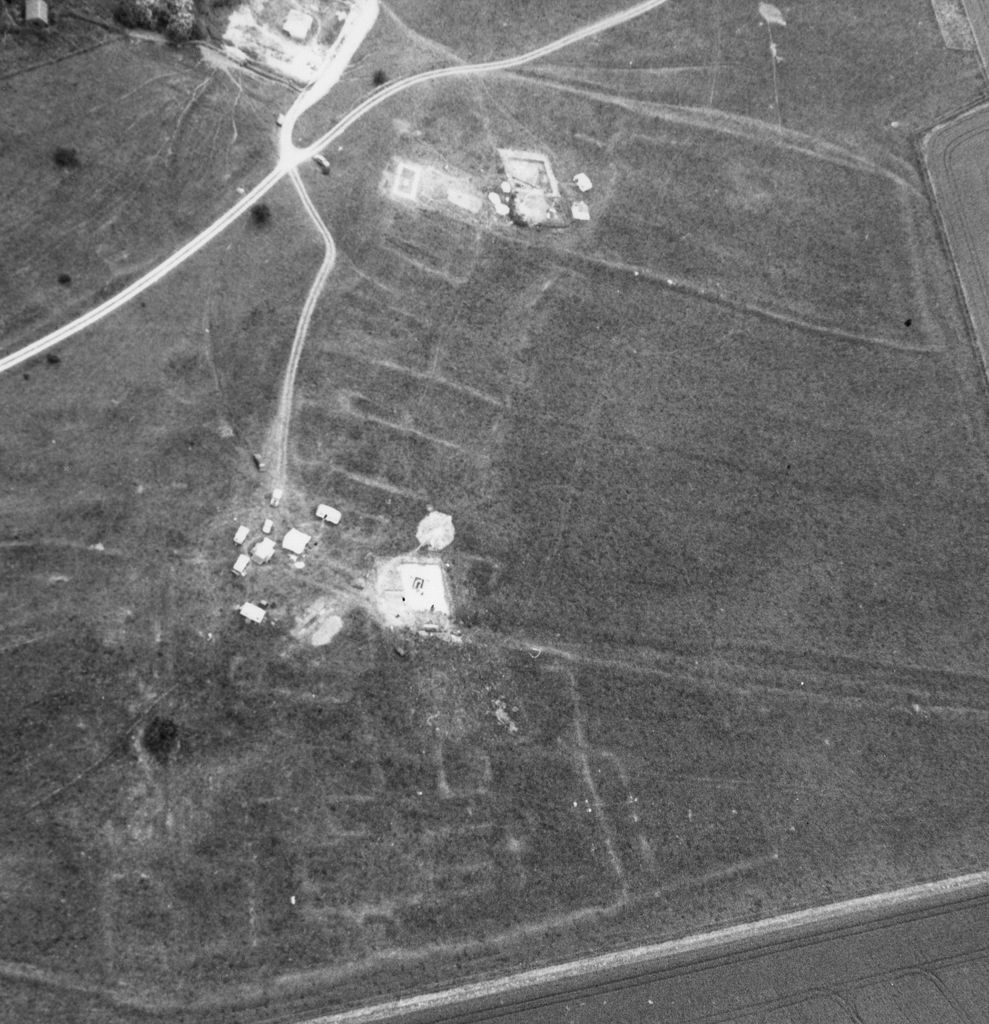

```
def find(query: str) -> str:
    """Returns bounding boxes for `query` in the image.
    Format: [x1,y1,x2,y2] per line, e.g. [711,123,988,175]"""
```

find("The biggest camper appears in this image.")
[316,504,343,524]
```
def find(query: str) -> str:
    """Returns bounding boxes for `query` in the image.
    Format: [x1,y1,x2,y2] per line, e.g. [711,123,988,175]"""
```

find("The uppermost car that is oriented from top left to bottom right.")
[313,152,332,171]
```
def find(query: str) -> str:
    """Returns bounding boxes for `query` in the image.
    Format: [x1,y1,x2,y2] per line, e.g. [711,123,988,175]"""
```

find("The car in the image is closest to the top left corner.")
[276,112,289,127]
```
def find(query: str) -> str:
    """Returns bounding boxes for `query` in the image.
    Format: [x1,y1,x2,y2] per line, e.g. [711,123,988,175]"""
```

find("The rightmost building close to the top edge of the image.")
[283,10,313,41]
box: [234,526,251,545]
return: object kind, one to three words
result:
camper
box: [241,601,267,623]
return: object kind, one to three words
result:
building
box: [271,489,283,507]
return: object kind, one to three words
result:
vehicle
